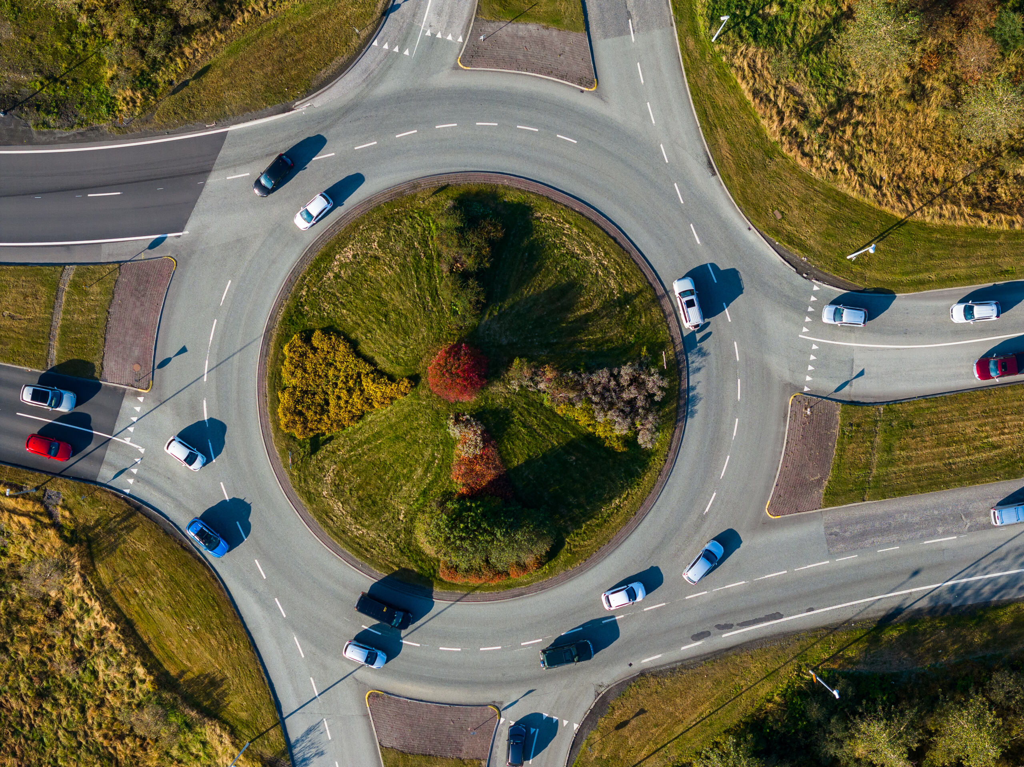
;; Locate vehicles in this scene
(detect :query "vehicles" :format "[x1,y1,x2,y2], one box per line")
[354,592,414,633]
[602,582,646,610]
[821,303,869,327]
[988,502,1024,526]
[186,518,230,558]
[683,540,723,584]
[674,276,703,328]
[25,434,73,461]
[541,641,594,669]
[971,353,1024,380]
[948,301,1001,324]
[295,192,333,230]
[164,436,207,471]
[505,724,527,767]
[343,641,386,670]
[20,385,77,412]
[255,155,293,196]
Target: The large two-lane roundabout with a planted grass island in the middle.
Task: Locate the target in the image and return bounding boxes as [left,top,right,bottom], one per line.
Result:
[158,74,784,700]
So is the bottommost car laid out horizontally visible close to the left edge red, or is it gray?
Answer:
red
